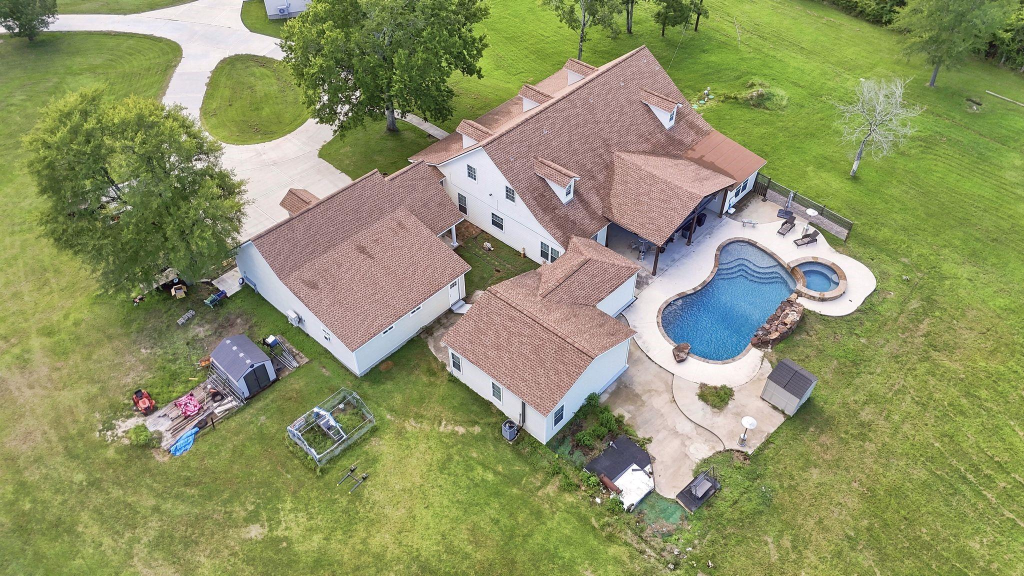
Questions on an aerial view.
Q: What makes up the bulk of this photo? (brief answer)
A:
grass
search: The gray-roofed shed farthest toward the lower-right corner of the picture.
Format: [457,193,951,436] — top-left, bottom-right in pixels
[761,358,817,414]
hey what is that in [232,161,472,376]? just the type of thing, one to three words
building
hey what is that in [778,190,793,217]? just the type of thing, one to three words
umbrella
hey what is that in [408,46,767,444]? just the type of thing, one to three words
house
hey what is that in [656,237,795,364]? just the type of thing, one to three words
swimming pool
